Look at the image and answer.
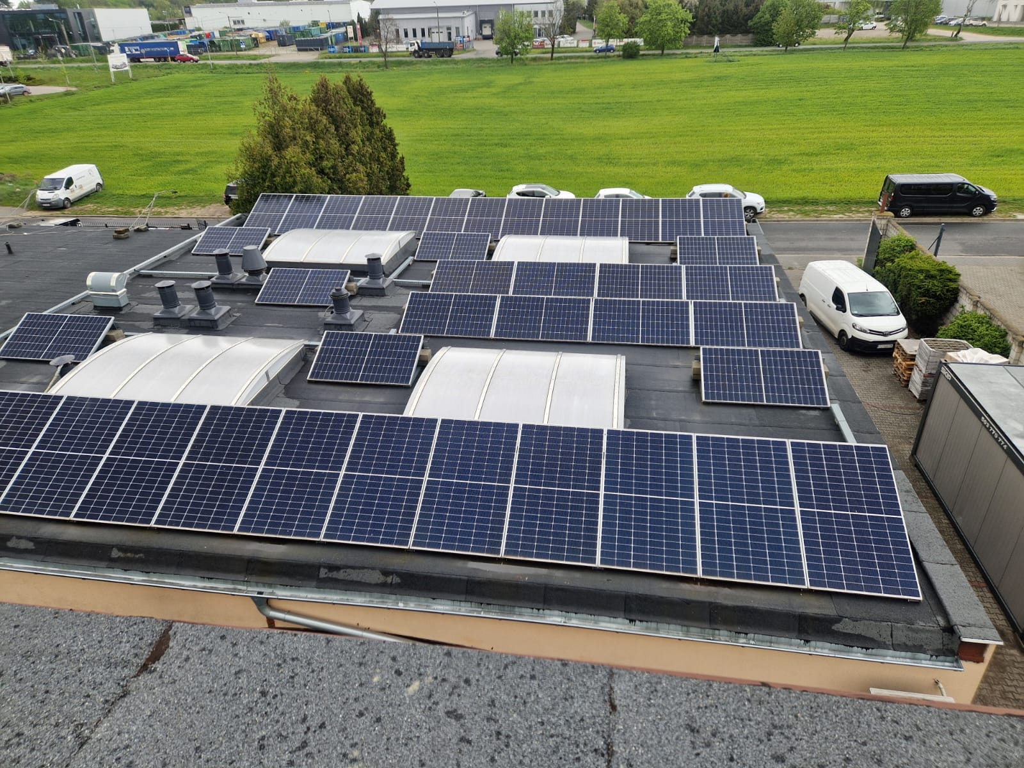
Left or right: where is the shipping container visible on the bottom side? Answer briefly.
right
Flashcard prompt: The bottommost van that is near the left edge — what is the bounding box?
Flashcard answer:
[37,159,109,205]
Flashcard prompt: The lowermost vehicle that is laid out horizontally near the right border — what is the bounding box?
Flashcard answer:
[874,169,998,214]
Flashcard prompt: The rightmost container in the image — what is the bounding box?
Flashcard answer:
[910,364,1024,644]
